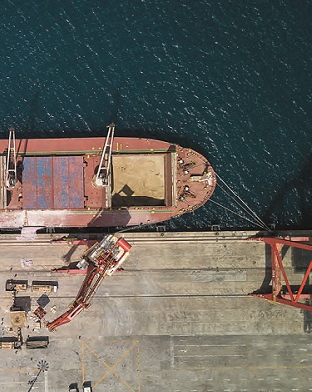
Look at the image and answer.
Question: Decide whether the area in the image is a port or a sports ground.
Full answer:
This looks like a port.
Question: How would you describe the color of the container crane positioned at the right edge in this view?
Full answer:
The container crane positioned at the right edge is red.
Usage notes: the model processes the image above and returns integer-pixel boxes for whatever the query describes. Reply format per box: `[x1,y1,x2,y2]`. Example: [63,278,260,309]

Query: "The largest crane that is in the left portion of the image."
[35,229,136,333]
